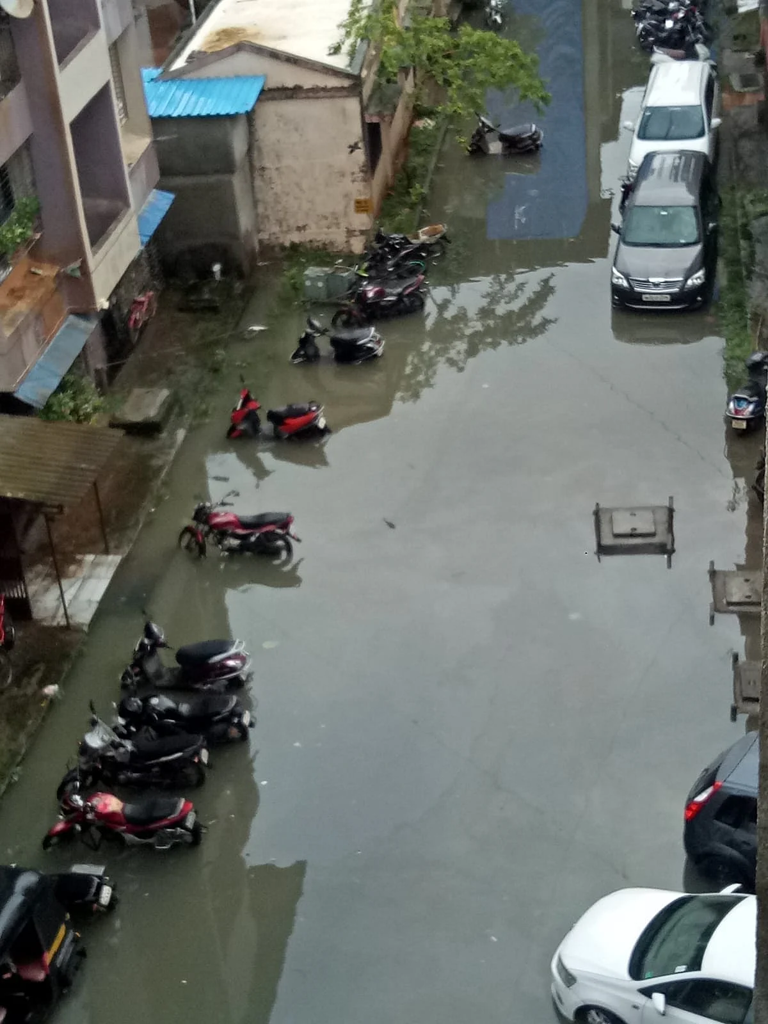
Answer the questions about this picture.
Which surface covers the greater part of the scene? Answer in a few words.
water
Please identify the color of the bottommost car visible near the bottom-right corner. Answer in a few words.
white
